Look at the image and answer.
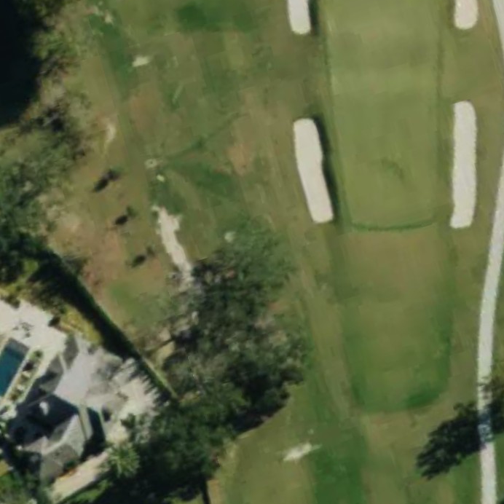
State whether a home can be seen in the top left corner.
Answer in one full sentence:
No, no home appears in the top left corner.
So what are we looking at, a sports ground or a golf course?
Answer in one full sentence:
The area seen from above is a golf course.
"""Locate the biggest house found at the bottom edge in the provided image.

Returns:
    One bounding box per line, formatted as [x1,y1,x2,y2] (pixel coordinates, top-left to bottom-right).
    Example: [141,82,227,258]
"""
[6,339,118,502]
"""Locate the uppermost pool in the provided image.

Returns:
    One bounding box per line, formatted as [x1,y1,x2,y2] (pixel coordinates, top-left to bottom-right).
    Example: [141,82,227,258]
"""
[0,336,33,400]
